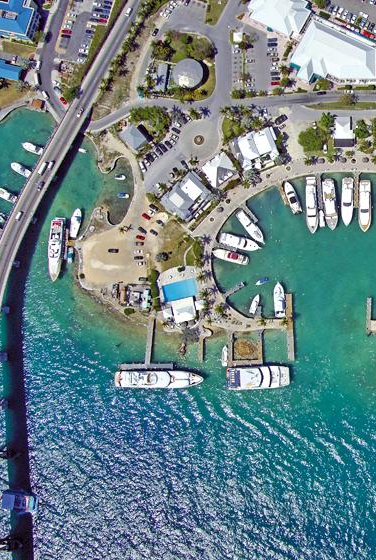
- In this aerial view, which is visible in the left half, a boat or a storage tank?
boat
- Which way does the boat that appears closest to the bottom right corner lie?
from left to right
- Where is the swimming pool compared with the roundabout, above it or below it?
below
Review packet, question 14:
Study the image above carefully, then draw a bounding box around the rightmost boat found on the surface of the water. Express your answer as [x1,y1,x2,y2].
[359,180,372,231]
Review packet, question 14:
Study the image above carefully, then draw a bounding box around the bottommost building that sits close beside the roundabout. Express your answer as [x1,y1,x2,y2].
[164,173,217,222]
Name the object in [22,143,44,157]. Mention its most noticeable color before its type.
white boat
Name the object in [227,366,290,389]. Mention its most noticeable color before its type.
white boat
